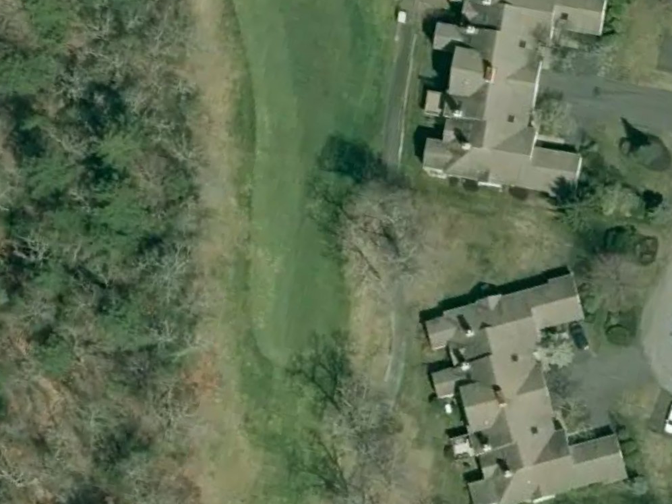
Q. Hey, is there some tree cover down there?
Yes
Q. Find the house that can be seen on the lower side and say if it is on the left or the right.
right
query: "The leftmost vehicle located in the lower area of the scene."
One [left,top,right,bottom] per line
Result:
[569,319,590,352]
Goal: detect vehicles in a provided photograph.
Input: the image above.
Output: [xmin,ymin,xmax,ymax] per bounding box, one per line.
[665,403,672,434]
[397,8,407,25]
[569,319,590,352]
